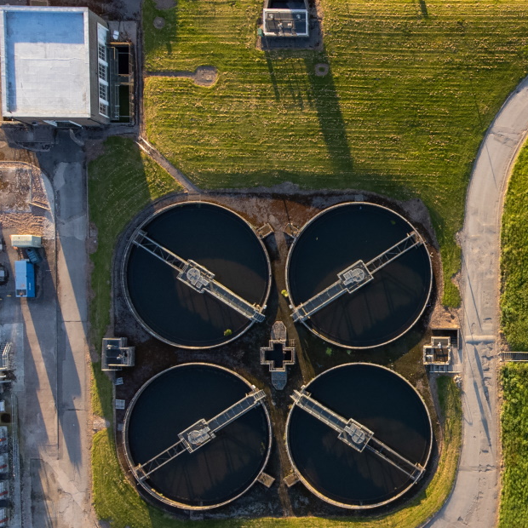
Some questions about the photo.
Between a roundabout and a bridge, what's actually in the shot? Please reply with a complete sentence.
Looking from above, you can make out a bridge.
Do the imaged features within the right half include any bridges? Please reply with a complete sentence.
Yes, the scene does show a bridge within the right half.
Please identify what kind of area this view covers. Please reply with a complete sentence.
This looks like an industrial area.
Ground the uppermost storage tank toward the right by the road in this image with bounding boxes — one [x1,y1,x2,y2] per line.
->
[286,202,434,349]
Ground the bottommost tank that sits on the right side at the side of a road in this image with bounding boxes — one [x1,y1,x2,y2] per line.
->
[285,362,435,510]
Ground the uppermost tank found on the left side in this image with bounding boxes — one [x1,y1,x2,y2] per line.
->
[123,201,274,350]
